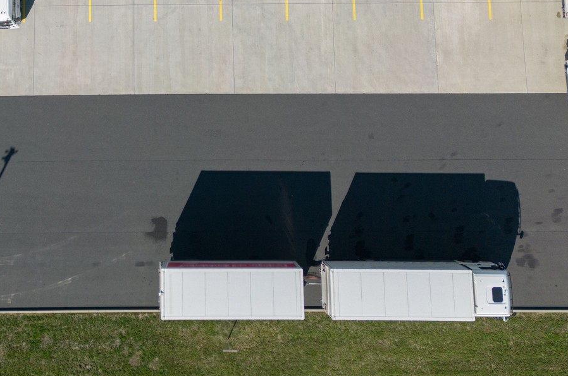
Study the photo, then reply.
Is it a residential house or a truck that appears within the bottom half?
truck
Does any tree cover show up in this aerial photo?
No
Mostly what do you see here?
paved ground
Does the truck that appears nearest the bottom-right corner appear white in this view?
Yes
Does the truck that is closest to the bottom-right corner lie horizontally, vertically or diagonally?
horizontally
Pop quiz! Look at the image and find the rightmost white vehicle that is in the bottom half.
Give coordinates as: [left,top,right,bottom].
[319,256,505,320]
